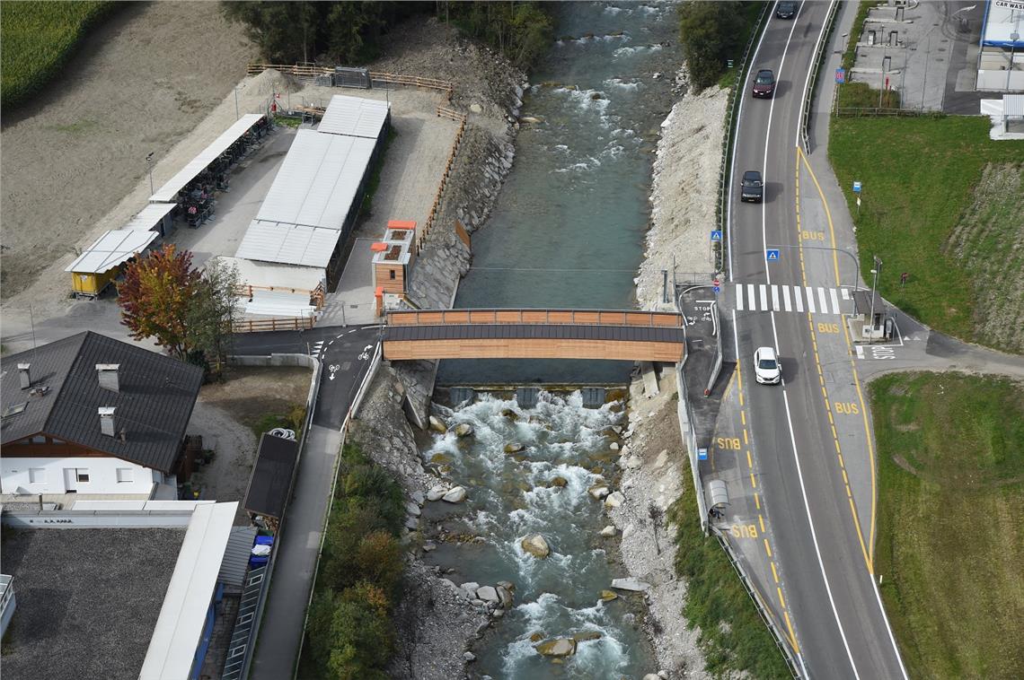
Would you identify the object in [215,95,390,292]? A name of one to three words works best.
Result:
building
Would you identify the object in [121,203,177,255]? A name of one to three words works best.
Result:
shed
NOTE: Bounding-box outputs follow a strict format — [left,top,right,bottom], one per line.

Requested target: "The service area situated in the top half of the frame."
[846,4,912,85]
